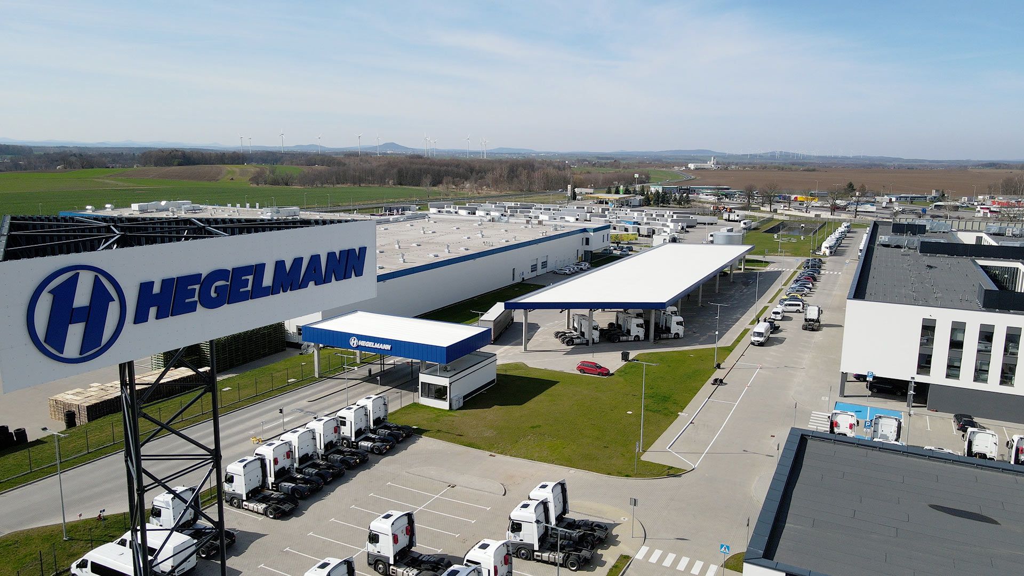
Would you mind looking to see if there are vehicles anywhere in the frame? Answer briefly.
Yes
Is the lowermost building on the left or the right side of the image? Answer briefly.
right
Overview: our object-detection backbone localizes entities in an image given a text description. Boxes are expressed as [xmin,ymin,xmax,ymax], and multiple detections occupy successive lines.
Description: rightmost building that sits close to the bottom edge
[743,428,1024,576]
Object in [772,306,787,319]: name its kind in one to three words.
vehicle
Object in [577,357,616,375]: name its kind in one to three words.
car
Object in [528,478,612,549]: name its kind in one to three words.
truck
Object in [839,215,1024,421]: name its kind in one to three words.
building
